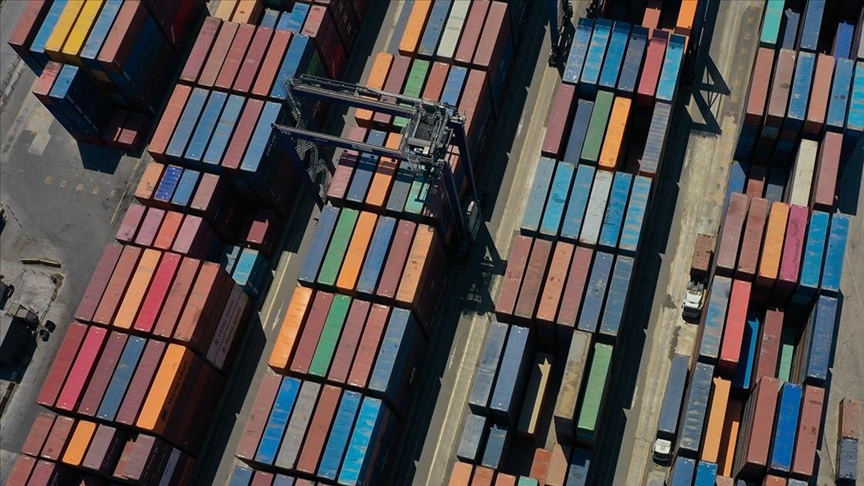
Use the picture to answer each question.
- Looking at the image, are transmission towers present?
No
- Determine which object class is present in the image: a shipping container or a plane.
shipping container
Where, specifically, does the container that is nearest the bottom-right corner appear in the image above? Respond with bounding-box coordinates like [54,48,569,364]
[830,440,858,486]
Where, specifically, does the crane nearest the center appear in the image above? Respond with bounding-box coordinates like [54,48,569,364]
[267,66,487,262]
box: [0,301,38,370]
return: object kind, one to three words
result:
truck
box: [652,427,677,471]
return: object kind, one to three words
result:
truck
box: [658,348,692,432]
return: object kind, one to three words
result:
shipping container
